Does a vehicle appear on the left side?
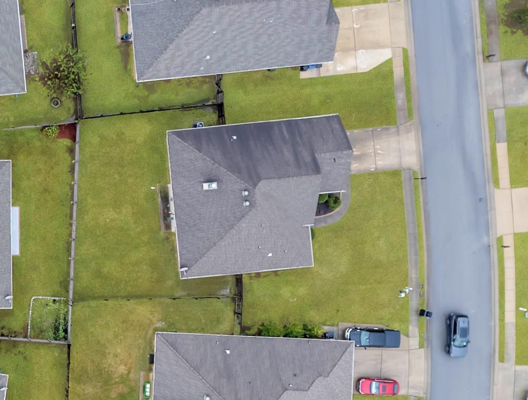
No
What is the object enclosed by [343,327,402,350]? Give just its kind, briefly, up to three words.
truck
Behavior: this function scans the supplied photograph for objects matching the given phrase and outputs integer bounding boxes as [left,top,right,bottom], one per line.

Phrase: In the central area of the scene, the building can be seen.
[164,113,353,280]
